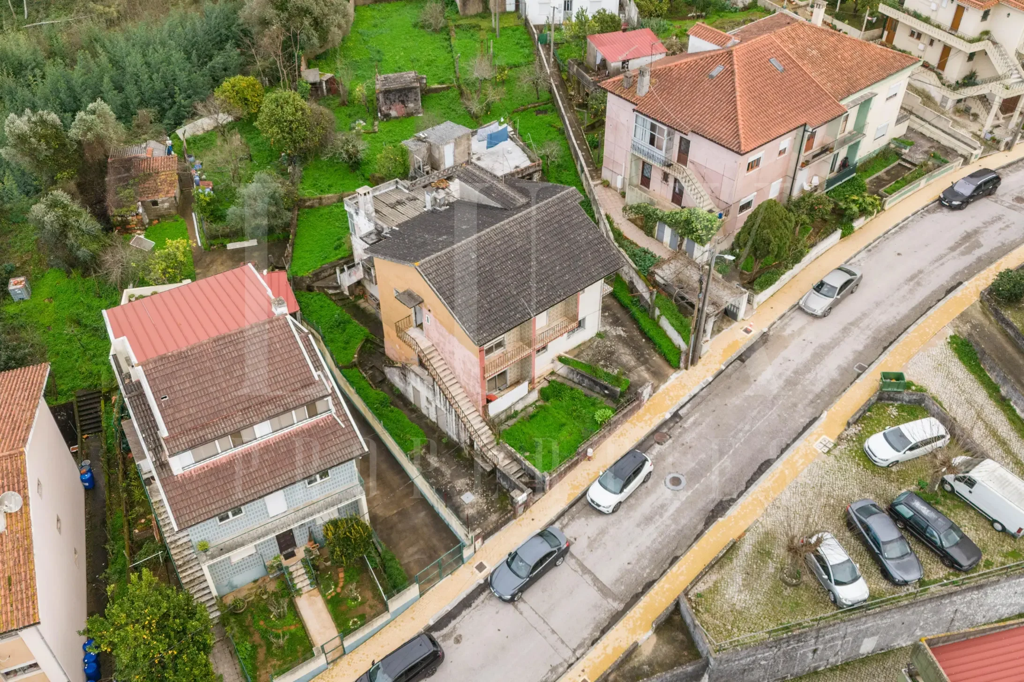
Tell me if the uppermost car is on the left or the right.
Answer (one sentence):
The uppermost car is on the right side of the image.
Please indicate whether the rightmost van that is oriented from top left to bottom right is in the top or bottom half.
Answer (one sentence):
The bottom half of the photo is where the rightmost van that is oriented from top left to bottom right is.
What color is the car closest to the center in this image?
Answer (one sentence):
From above, the car closest to the center appears white.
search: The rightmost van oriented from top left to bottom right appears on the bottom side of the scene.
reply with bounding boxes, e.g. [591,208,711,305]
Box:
[940,459,1024,545]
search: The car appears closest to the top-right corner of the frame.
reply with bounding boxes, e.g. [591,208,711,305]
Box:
[942,167,1005,210]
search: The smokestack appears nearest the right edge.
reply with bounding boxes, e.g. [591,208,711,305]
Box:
[811,2,830,25]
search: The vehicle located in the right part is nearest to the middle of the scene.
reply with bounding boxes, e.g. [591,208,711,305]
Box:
[587,450,654,517]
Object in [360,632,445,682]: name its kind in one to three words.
car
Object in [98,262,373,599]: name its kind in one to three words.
house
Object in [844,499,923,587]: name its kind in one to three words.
car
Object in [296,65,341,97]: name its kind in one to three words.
shed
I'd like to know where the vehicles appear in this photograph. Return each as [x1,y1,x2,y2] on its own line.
[360,632,445,682]
[890,494,979,572]
[801,266,864,319]
[942,167,1005,210]
[587,450,654,517]
[487,529,570,607]
[867,415,952,466]
[806,535,868,612]
[940,459,1024,545]
[844,499,923,587]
